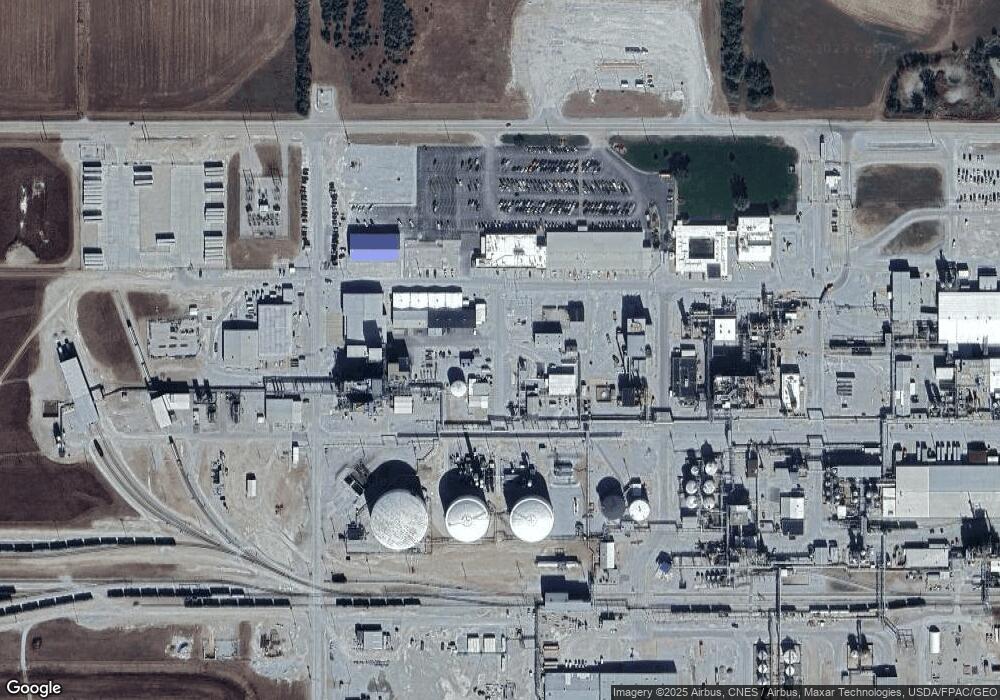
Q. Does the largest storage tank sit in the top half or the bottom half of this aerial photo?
bottom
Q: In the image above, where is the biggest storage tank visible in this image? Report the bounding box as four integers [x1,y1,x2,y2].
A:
[368,490,427,550]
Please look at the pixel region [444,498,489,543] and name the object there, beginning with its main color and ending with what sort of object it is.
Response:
white storage tank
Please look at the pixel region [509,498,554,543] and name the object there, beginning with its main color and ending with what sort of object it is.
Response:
white storage tank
